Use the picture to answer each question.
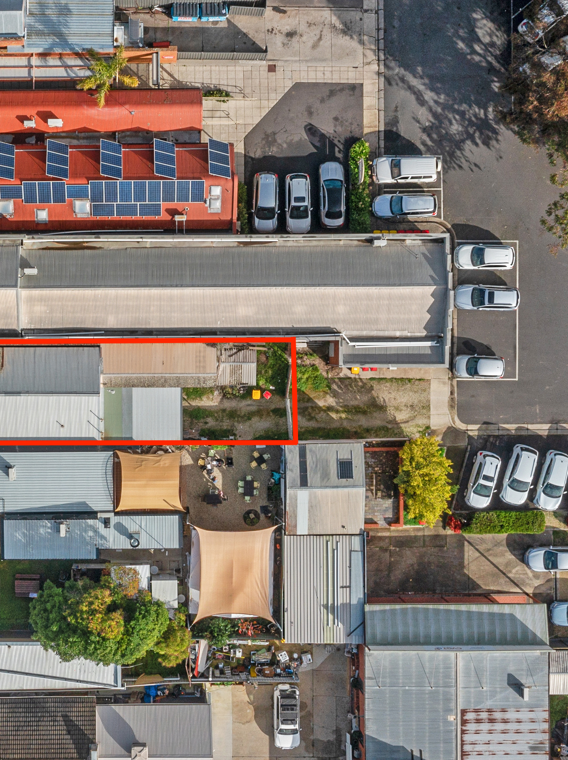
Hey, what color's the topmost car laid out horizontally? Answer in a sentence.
The topmost car laid out horizontally is white.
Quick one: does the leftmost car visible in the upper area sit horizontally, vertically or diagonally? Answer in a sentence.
The leftmost car visible in the upper area is oriented vertically.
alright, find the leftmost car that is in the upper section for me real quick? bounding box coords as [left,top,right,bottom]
[255,170,285,234]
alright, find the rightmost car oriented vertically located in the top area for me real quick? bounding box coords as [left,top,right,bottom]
[320,163,351,228]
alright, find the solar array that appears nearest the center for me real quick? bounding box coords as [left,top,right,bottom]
[340,460,355,478]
